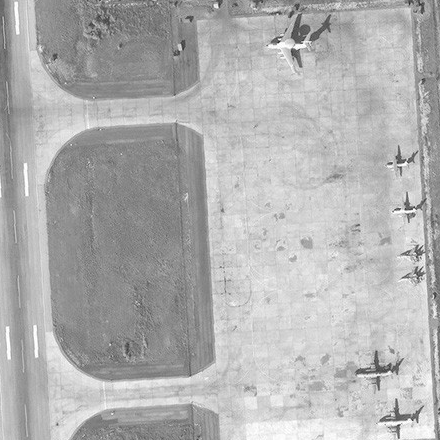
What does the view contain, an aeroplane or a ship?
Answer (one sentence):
Visible in the photo is an aeroplane.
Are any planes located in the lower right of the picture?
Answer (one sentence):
Yes, in the lower right of the picture there is a plane.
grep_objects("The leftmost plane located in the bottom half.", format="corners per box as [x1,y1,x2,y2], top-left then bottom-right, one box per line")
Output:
[356,354,394,394]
